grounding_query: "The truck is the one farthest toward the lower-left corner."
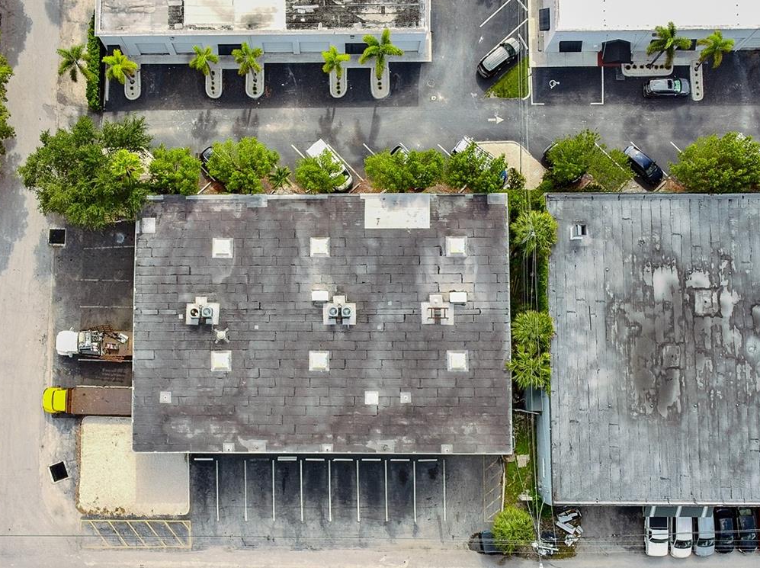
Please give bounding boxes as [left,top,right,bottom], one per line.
[43,383,132,418]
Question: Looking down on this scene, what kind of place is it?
industrial area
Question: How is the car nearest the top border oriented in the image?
at an angle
